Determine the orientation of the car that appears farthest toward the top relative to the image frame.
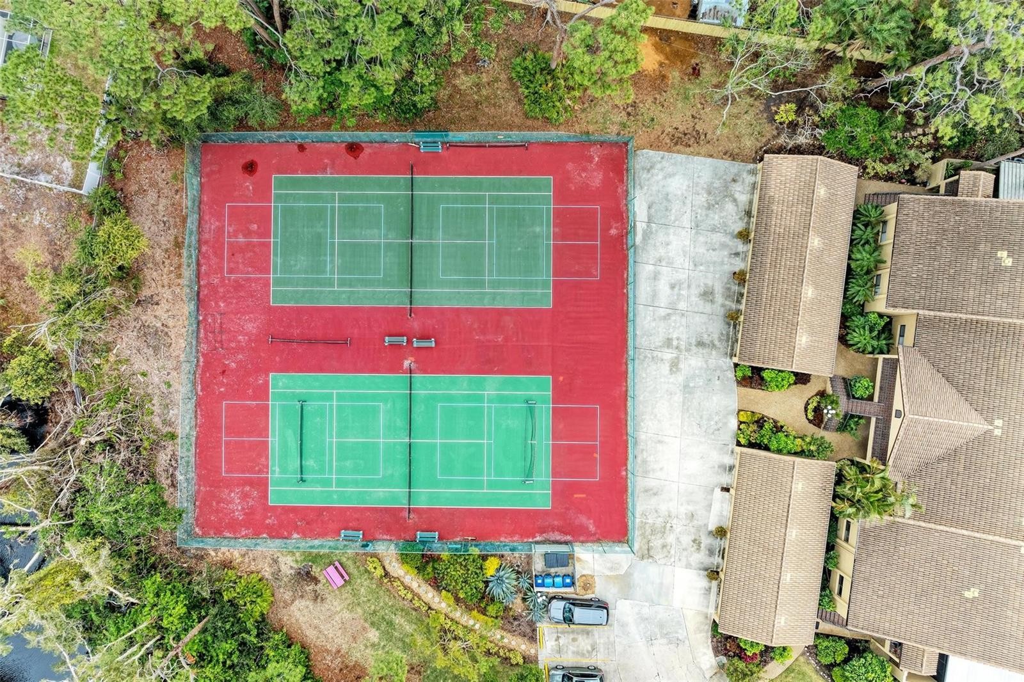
from side to side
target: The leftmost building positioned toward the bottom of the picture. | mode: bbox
[535,545,578,595]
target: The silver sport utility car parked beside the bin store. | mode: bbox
[548,595,608,627]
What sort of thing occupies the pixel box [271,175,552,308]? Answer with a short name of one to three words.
tennis court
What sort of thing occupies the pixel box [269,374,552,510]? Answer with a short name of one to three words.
tennis court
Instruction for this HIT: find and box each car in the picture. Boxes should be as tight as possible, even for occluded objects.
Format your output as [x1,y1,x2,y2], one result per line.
[548,595,608,627]
[549,667,604,682]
